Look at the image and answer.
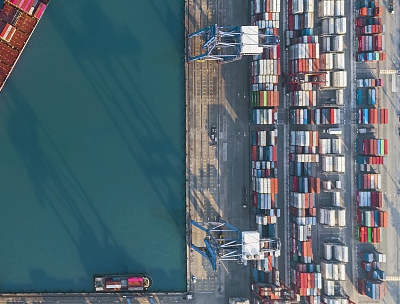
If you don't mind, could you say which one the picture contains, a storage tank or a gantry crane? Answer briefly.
gantry crane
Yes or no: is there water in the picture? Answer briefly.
Yes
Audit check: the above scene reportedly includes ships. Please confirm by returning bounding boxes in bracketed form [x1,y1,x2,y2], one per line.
[94,274,152,291]
[0,0,50,91]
